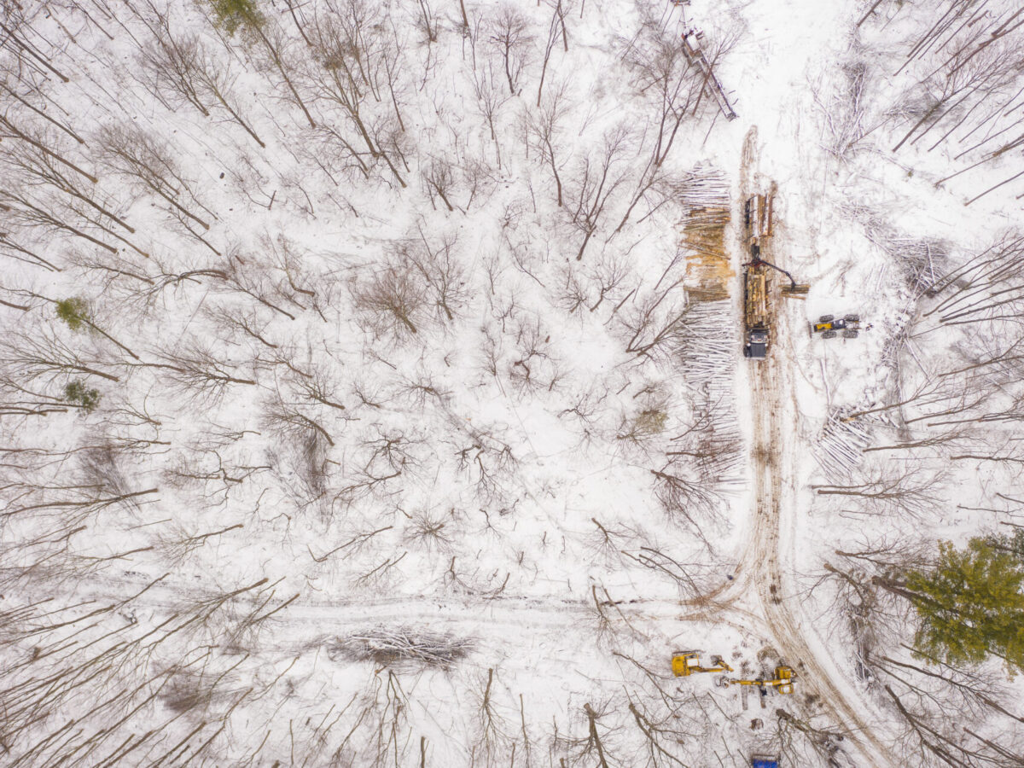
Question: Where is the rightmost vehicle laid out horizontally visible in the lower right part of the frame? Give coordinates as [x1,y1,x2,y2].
[717,666,799,694]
